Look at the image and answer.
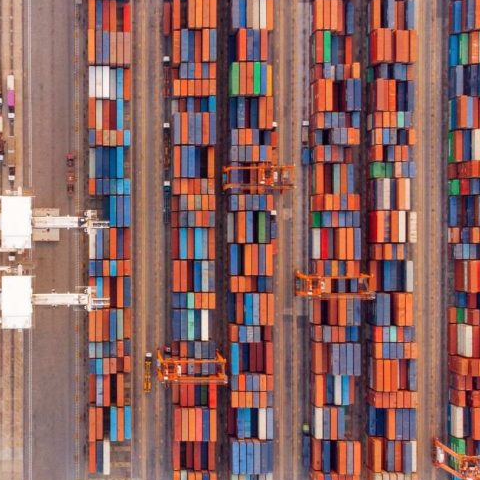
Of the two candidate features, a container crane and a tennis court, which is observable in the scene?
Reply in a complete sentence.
The image shows a container crane.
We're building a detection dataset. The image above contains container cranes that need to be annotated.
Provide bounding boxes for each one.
[154,344,232,383]
[0,184,109,260]
[0,260,109,331]
[432,436,480,480]
[292,266,381,300]
[218,164,301,199]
